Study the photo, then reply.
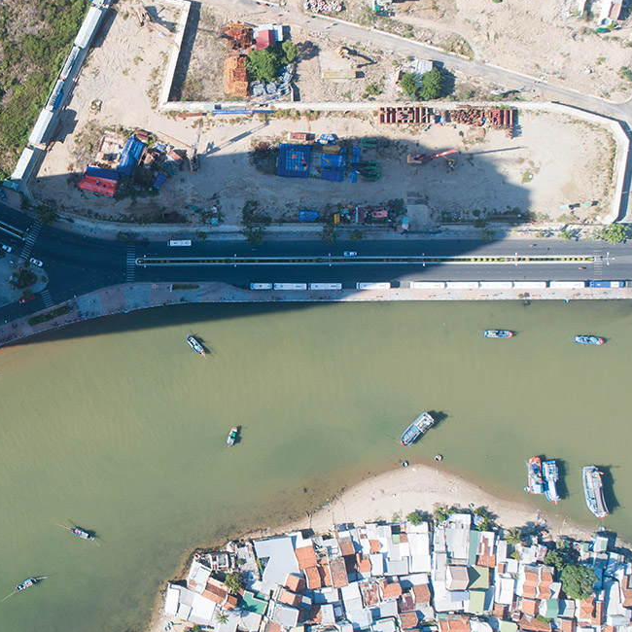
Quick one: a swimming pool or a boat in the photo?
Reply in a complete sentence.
Visible in the photo is a boat.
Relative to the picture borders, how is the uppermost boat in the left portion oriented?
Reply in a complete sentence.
In this picture, the uppermost boat in the left portion is oriented diagonally.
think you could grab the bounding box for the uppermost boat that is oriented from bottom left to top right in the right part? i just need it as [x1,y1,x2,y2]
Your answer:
[400,411,435,445]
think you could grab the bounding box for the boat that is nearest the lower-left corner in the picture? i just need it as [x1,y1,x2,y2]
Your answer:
[5,574,49,593]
